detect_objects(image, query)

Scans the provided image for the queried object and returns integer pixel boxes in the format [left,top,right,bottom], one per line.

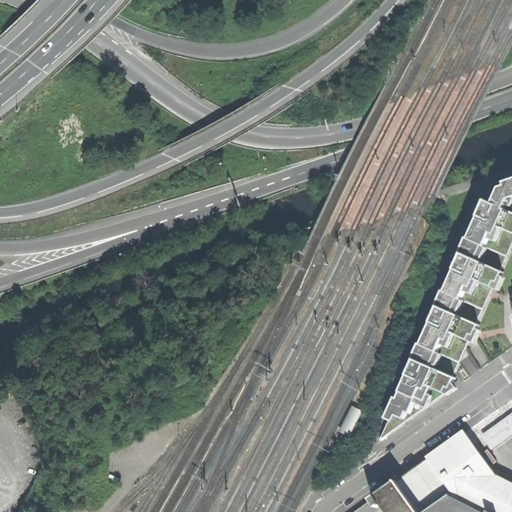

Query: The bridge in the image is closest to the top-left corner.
[0,0,131,84]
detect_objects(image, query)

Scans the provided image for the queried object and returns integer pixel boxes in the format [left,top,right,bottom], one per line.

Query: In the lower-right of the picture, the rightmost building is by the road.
[476,412,512,470]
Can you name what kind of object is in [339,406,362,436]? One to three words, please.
shed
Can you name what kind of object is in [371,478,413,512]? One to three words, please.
building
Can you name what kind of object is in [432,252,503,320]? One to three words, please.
building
